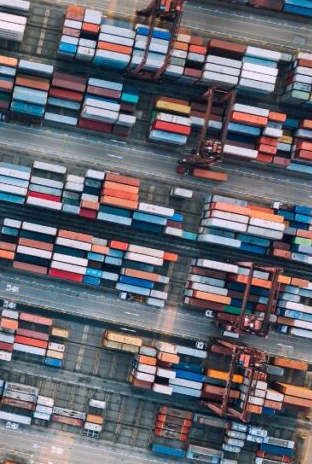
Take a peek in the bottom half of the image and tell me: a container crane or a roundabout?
container crane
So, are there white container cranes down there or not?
No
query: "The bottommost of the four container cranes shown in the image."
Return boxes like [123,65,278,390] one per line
[197,335,261,425]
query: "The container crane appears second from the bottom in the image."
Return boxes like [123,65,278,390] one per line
[214,257,280,340]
